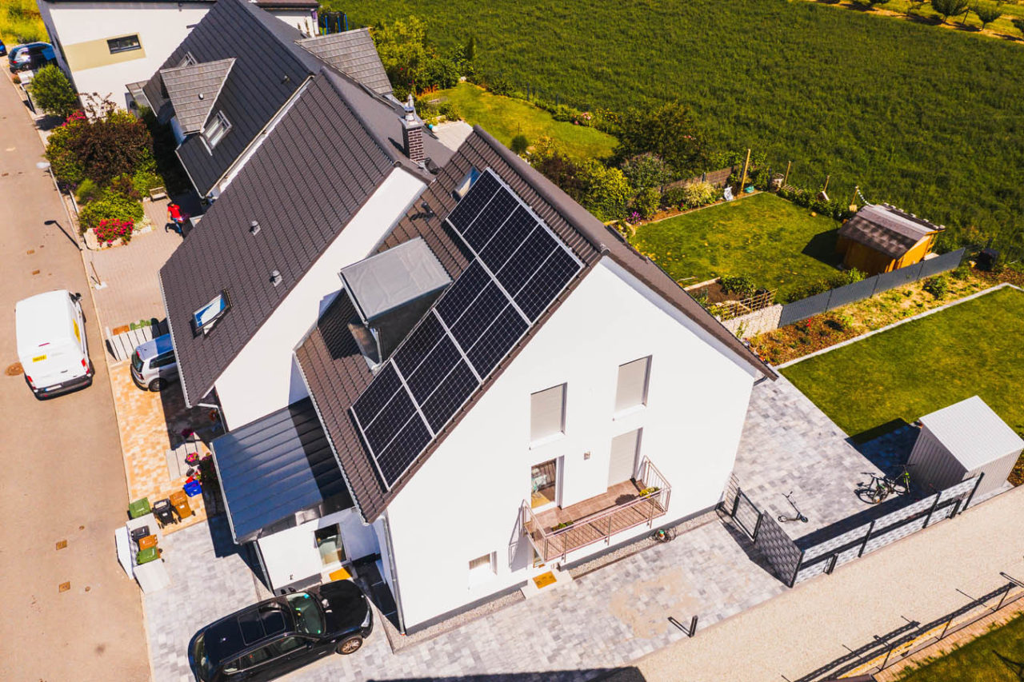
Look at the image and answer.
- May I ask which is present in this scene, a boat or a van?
van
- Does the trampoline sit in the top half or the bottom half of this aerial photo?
top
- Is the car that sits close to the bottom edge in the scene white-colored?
No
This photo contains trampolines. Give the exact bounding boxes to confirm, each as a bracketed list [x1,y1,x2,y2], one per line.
[315,0,352,31]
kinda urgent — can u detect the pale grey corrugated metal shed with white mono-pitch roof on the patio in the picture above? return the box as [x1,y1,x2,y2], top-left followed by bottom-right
[900,394,1024,497]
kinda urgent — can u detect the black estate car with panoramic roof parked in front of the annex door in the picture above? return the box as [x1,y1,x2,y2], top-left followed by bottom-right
[189,571,371,682]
